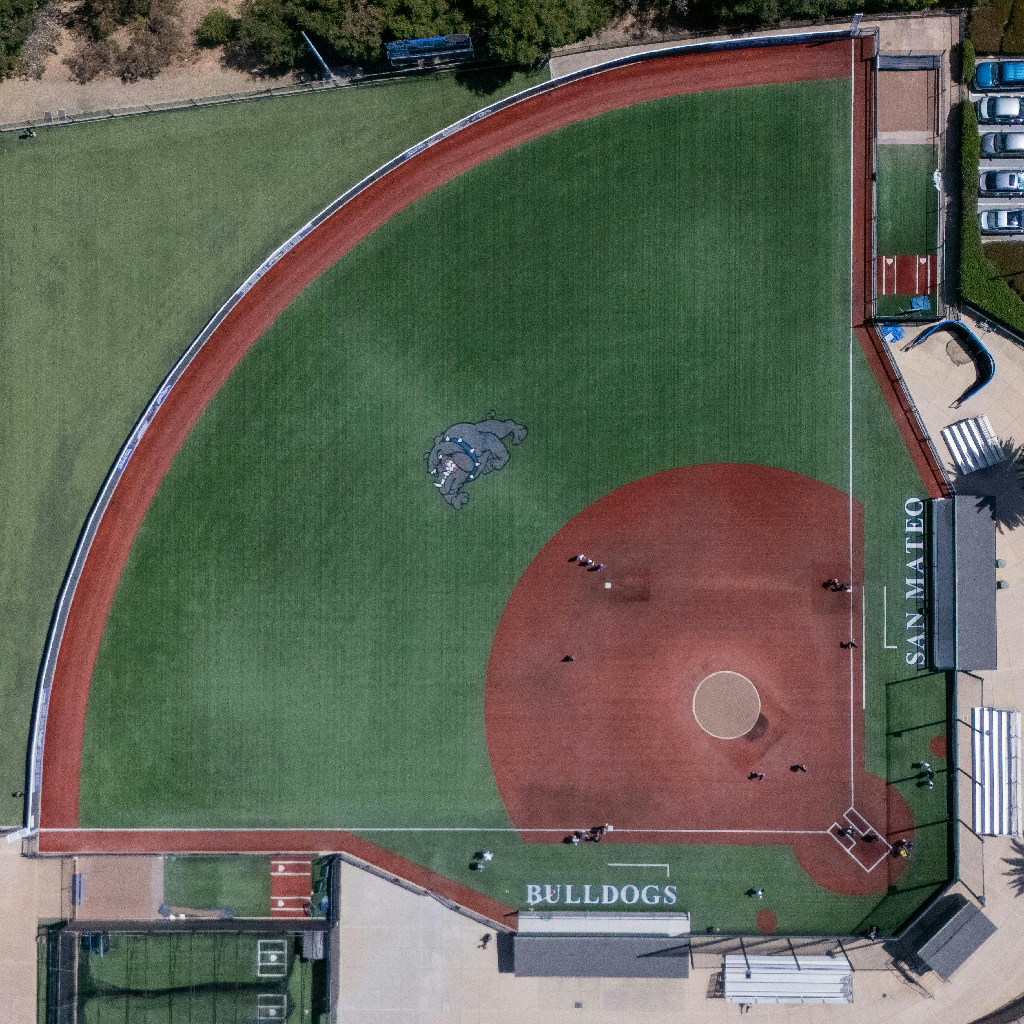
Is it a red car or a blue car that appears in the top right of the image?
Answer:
blue car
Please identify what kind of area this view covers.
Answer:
sports ground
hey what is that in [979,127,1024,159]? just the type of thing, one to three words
car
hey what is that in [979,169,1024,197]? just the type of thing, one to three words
car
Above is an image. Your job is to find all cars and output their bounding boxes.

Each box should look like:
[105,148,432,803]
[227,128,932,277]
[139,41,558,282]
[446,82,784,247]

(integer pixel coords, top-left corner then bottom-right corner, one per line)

[979,169,1024,197]
[979,127,1024,159]
[980,209,1024,236]
[976,91,1024,124]
[974,56,1024,92]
